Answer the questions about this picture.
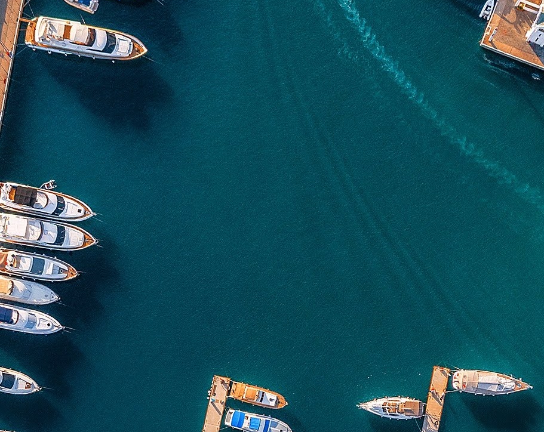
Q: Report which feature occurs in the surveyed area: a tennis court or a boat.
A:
boat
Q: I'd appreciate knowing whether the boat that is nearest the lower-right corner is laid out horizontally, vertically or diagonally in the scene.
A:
horizontally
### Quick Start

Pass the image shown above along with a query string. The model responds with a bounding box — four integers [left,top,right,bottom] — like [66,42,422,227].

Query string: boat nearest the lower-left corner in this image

[0,367,65,396]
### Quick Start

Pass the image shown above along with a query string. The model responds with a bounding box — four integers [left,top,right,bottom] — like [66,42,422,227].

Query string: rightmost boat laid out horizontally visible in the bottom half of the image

[448,369,534,396]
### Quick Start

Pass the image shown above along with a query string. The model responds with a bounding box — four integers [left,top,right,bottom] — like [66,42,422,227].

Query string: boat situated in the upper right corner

[477,0,494,24]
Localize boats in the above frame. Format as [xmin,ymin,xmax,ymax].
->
[13,12,172,62]
[62,0,105,18]
[477,0,494,24]
[225,376,290,408]
[0,278,83,309]
[0,248,104,282]
[224,411,293,432]
[0,367,65,396]
[448,369,534,396]
[0,214,123,252]
[355,395,429,421]
[39,176,63,190]
[0,181,116,225]
[0,304,74,337]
